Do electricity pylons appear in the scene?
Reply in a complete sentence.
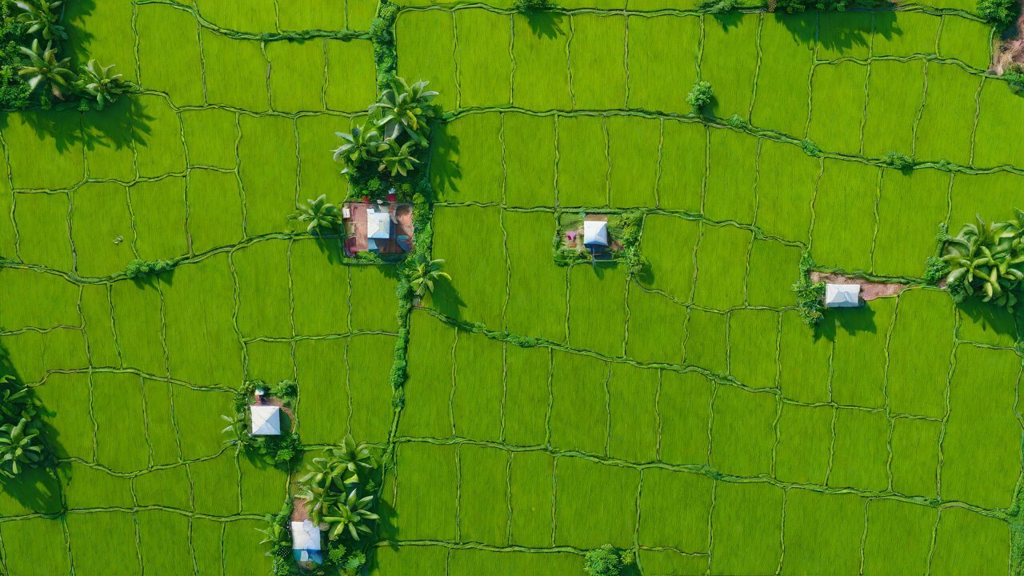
No, no electricity pylon is visible in the scene.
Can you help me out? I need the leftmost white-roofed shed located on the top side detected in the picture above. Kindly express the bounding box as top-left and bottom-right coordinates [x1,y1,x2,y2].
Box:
[367,209,389,249]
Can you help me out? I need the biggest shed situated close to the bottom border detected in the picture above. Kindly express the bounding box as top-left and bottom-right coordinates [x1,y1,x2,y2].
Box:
[292,521,323,563]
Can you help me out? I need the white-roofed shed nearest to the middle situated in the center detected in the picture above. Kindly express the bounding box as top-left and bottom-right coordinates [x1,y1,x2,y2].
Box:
[584,221,608,248]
